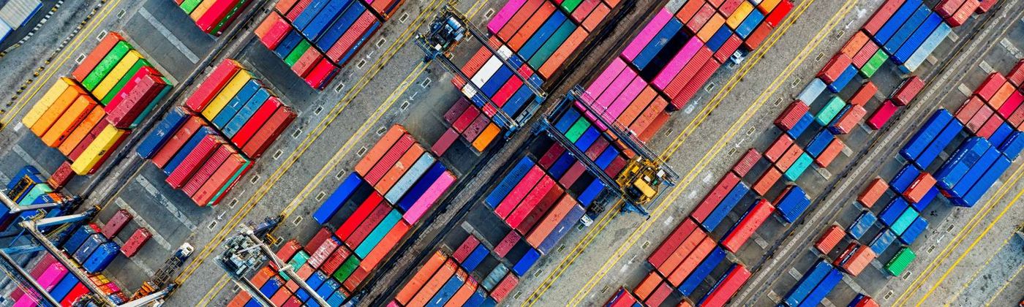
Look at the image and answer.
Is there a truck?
Yes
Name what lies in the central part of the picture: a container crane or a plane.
container crane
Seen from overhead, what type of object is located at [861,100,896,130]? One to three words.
shipping container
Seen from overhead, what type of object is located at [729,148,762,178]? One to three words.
shipping container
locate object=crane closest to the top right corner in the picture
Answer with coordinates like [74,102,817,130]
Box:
[539,86,680,218]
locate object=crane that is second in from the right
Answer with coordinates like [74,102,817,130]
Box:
[413,0,550,139]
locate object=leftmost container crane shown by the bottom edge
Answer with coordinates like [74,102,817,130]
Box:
[0,207,180,307]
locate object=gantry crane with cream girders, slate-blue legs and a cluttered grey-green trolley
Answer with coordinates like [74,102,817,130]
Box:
[210,210,374,307]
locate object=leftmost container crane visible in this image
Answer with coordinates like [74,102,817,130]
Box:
[0,174,85,240]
